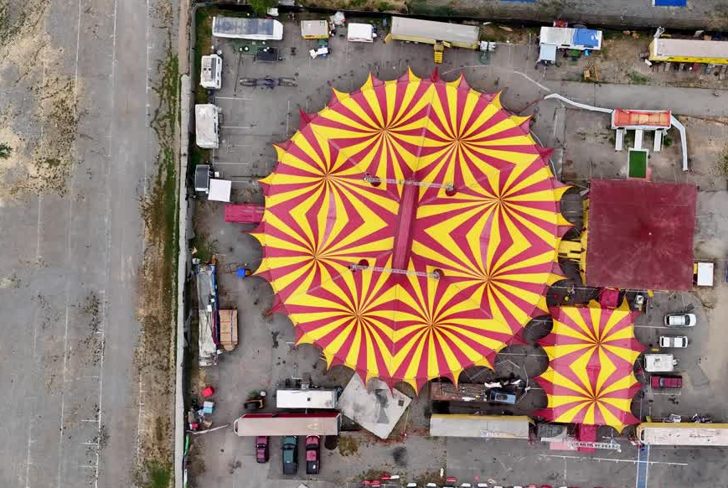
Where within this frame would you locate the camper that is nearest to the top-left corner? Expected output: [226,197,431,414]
[201,54,228,91]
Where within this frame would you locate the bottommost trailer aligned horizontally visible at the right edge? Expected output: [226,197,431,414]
[634,422,728,445]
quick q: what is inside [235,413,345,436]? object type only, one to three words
trailer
